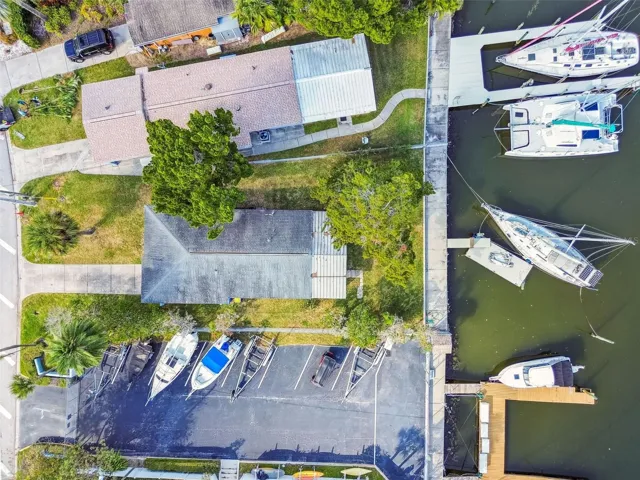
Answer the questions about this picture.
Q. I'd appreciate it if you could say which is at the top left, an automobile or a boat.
automobile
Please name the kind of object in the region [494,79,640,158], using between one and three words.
boat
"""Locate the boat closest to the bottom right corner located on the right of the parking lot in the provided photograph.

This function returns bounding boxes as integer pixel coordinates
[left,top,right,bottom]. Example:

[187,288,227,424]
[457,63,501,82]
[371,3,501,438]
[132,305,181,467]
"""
[488,356,586,389]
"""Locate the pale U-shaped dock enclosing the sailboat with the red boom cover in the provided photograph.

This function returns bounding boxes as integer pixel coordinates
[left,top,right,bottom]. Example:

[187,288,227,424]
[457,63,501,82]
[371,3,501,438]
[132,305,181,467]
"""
[449,20,640,108]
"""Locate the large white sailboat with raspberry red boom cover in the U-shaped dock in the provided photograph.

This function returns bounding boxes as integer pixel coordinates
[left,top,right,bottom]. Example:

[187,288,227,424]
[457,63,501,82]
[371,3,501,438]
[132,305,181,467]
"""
[499,0,640,76]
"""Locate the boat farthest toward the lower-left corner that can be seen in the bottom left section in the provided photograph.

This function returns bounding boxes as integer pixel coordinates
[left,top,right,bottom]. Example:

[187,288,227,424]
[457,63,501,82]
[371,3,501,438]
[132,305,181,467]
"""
[124,339,153,385]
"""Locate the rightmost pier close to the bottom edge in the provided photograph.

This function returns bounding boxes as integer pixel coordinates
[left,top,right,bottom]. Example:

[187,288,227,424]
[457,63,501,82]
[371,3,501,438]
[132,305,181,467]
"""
[475,383,594,480]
